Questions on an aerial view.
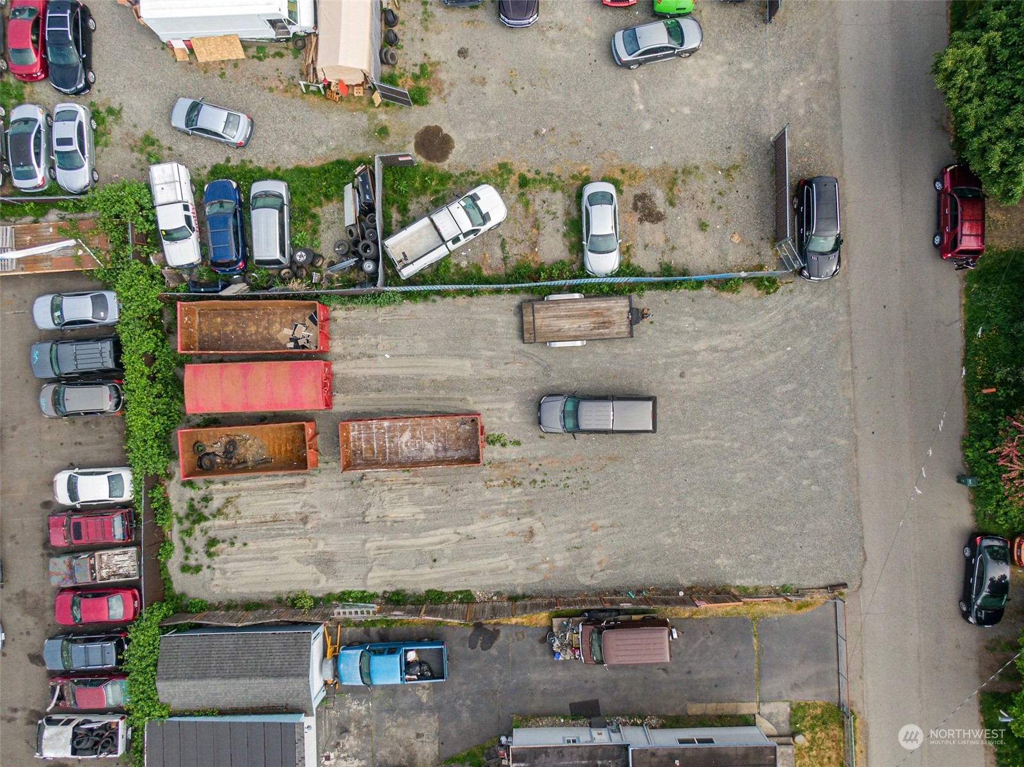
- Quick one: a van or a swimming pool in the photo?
van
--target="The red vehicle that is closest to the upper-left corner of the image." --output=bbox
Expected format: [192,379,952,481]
[1,0,51,82]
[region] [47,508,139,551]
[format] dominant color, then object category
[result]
red car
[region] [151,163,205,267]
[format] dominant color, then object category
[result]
white truck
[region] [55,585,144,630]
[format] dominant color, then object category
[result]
red car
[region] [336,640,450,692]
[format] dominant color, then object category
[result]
blue truck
